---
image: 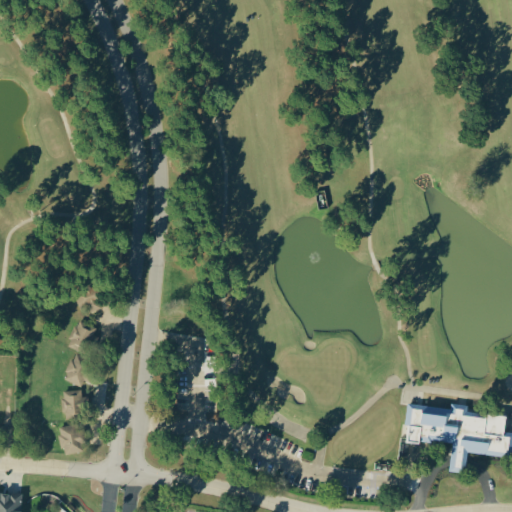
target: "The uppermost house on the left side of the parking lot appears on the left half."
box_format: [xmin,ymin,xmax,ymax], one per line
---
[64,324,95,352]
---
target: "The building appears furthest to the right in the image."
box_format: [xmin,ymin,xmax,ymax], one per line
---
[406,404,512,474]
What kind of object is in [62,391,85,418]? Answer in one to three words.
house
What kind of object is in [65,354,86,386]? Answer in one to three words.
house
